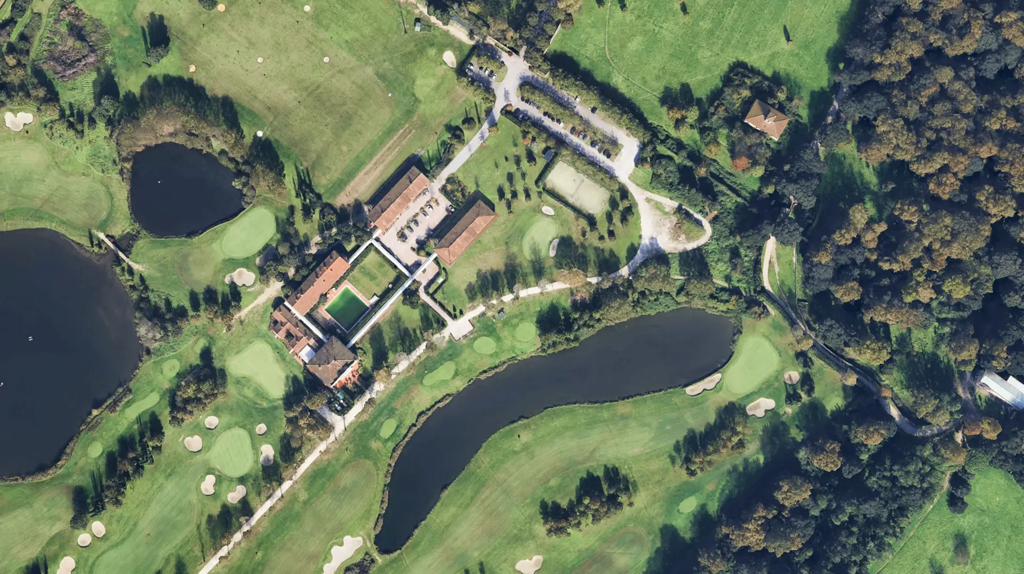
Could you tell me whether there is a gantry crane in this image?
No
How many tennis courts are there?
1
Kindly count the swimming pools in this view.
1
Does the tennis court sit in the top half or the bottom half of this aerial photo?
top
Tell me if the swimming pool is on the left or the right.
left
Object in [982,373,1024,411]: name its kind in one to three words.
shed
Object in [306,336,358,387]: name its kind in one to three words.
building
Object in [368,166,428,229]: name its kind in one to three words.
barn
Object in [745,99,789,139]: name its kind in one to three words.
house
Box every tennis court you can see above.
[545,161,609,214]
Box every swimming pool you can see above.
[319,280,373,334]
